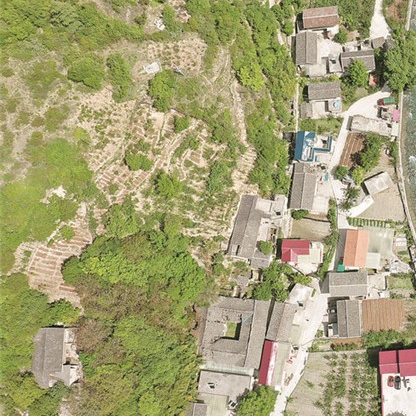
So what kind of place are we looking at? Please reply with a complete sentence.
The picture captures a residential area.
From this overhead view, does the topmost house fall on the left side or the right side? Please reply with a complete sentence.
The topmost house is on the right side of the image.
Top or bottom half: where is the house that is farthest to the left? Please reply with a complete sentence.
Seen from above, the house that is farthest to the left lies in the bottom half of the view.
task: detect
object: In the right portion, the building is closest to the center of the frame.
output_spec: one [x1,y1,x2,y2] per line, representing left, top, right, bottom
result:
[228,194,290,267]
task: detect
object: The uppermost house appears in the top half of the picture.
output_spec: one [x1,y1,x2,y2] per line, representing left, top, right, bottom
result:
[303,5,340,36]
